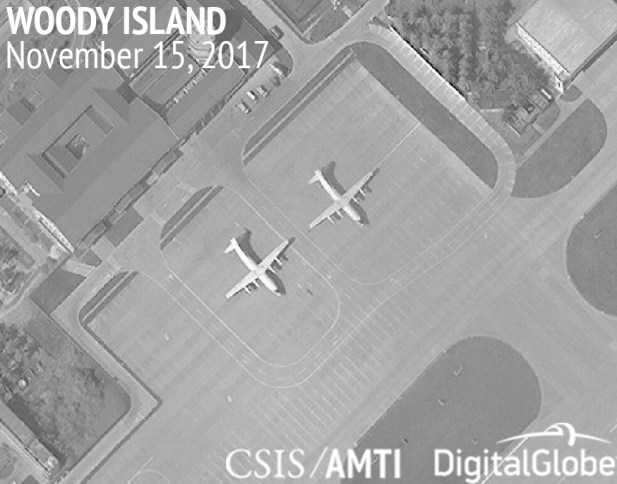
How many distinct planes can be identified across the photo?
2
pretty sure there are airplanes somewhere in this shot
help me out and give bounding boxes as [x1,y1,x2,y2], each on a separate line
[308,166,372,227]
[224,235,289,297]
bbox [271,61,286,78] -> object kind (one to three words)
vehicle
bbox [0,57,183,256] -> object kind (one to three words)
building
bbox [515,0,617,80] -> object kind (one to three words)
hangar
